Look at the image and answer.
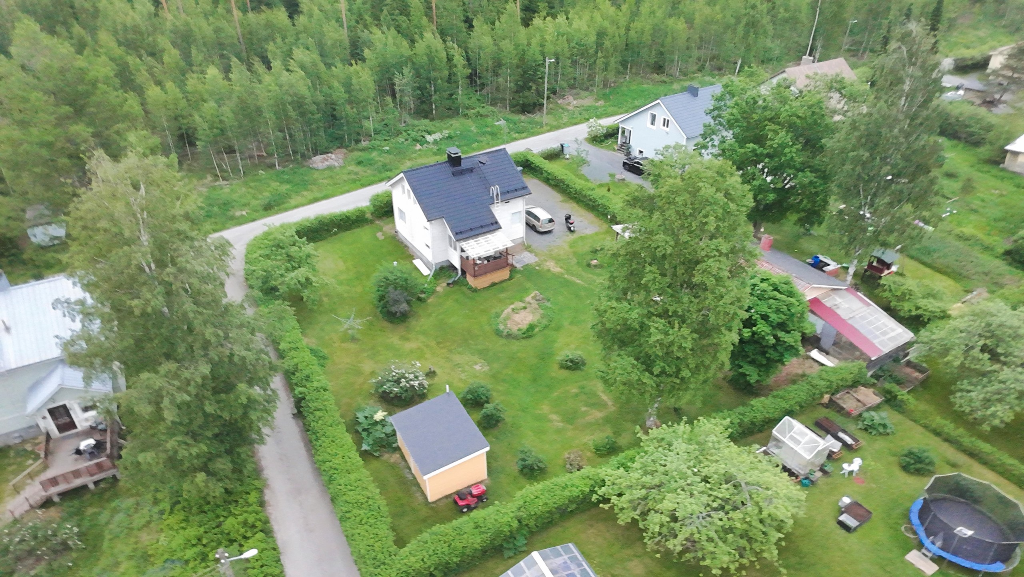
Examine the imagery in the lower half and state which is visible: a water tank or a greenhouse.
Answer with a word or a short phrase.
greenhouse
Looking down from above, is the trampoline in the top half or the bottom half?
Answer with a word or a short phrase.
bottom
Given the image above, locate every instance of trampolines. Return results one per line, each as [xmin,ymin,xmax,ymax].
[911,479,1024,577]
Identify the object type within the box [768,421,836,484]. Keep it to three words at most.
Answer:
greenhouse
